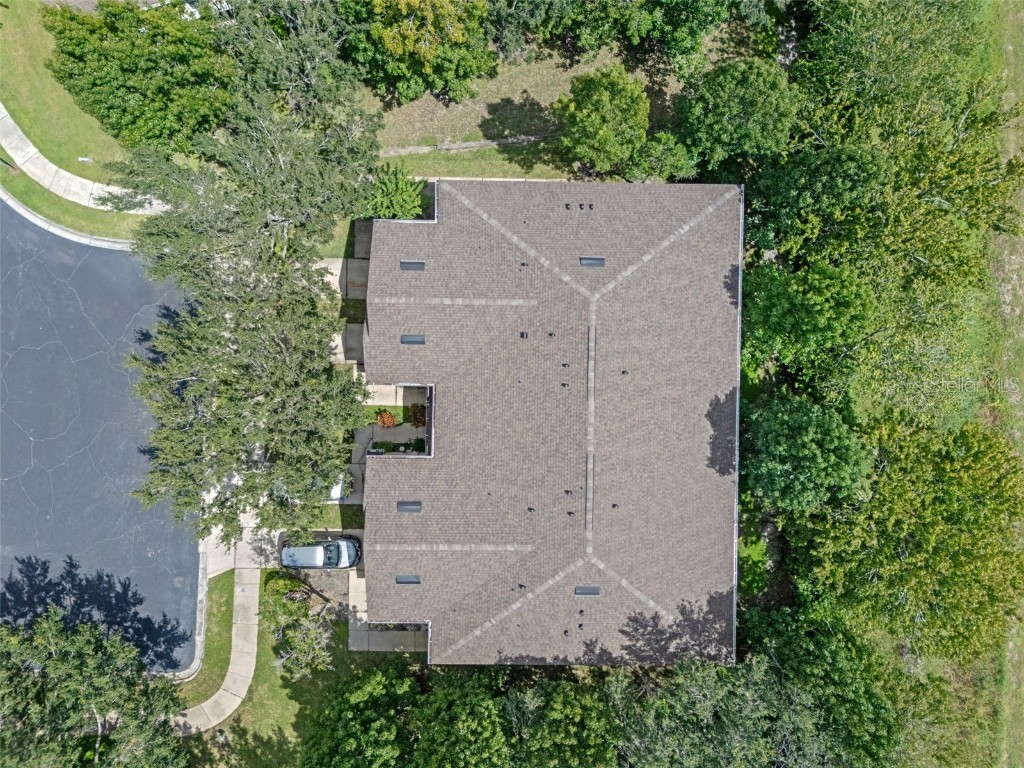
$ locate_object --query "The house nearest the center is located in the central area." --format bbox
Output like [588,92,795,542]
[361,180,745,666]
